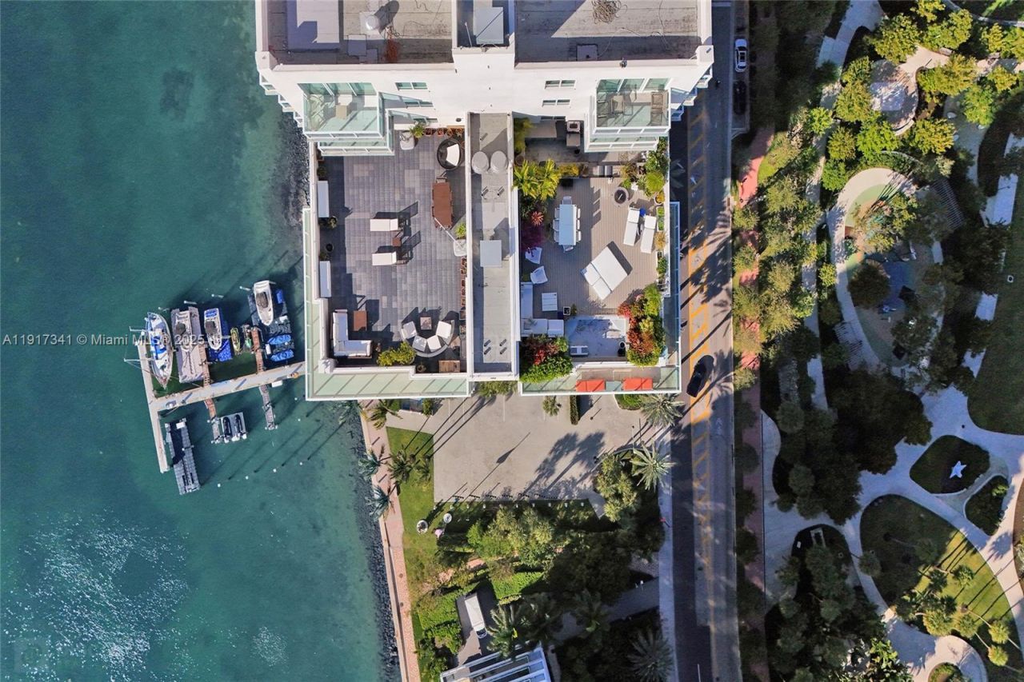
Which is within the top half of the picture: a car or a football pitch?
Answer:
car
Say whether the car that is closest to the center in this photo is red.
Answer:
No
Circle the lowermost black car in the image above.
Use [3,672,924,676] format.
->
[686,357,713,395]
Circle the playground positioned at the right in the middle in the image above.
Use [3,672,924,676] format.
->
[827,167,942,375]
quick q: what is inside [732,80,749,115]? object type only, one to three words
car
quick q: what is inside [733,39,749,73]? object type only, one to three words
car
